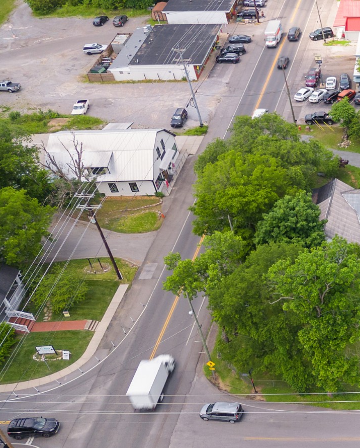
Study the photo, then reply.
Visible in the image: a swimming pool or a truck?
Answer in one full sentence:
I can see a truck in this picture.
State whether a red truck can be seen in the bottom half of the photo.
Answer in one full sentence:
No, no red truck appears in the bottom half of the photo.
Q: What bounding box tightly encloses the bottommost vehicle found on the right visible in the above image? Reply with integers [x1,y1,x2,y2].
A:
[198,400,247,425]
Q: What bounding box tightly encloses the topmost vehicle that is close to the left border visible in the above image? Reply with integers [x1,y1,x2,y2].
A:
[0,81,24,93]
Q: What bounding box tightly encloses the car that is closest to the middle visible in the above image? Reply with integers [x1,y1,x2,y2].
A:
[172,110,187,126]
